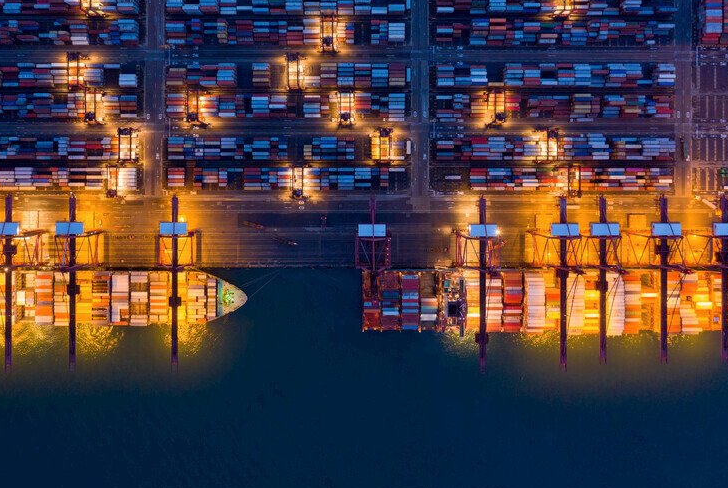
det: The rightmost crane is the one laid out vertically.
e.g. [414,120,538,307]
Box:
[673,192,728,362]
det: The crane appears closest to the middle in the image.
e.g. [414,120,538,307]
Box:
[345,191,392,306]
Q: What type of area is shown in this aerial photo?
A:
port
